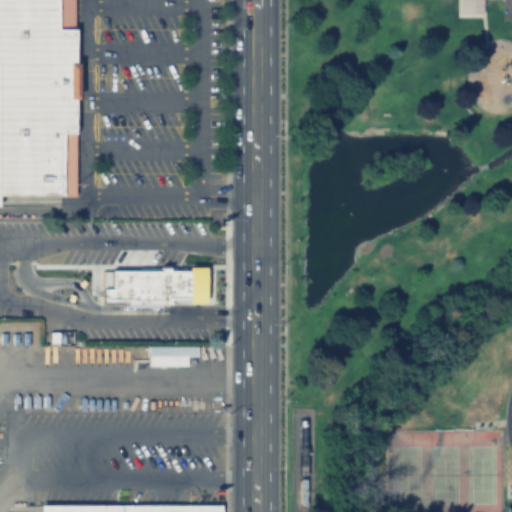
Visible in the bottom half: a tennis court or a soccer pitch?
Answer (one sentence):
Looking in the bottom half, you will find a tennis court.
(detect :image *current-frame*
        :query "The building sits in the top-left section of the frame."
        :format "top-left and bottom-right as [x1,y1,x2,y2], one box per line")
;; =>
[0,0,83,208]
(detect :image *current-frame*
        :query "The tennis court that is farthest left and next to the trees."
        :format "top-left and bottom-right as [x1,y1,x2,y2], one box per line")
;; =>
[394,448,424,505]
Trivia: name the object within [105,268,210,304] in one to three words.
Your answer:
building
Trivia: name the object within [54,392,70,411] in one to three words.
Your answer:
vehicle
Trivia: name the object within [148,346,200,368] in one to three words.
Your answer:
building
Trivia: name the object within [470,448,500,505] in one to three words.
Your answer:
tennis court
